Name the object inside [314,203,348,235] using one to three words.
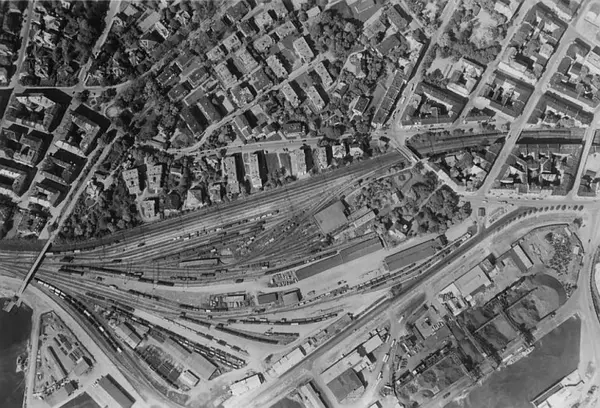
building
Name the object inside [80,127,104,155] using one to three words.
building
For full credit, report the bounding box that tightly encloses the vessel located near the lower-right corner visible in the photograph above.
[509,347,536,366]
